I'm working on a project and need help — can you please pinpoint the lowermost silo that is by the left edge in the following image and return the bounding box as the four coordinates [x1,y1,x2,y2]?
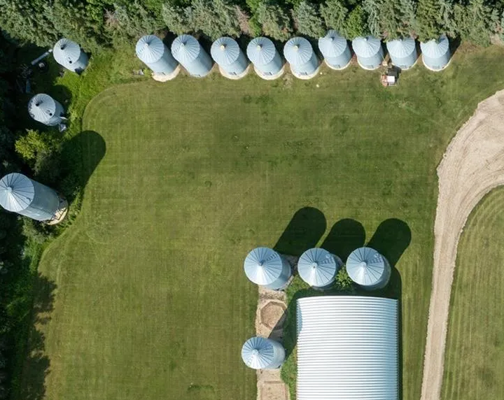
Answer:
[0,173,71,225]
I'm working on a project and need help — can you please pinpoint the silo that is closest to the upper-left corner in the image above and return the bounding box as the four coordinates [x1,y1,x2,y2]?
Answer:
[54,37,92,73]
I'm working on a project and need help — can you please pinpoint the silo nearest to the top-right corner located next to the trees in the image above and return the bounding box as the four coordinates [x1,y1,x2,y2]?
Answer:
[420,28,449,70]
